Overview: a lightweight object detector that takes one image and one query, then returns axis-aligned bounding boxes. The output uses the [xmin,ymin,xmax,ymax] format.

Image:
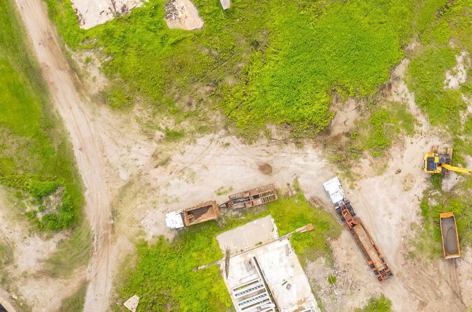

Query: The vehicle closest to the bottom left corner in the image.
[163,205,219,235]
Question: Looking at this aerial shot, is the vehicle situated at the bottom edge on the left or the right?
right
